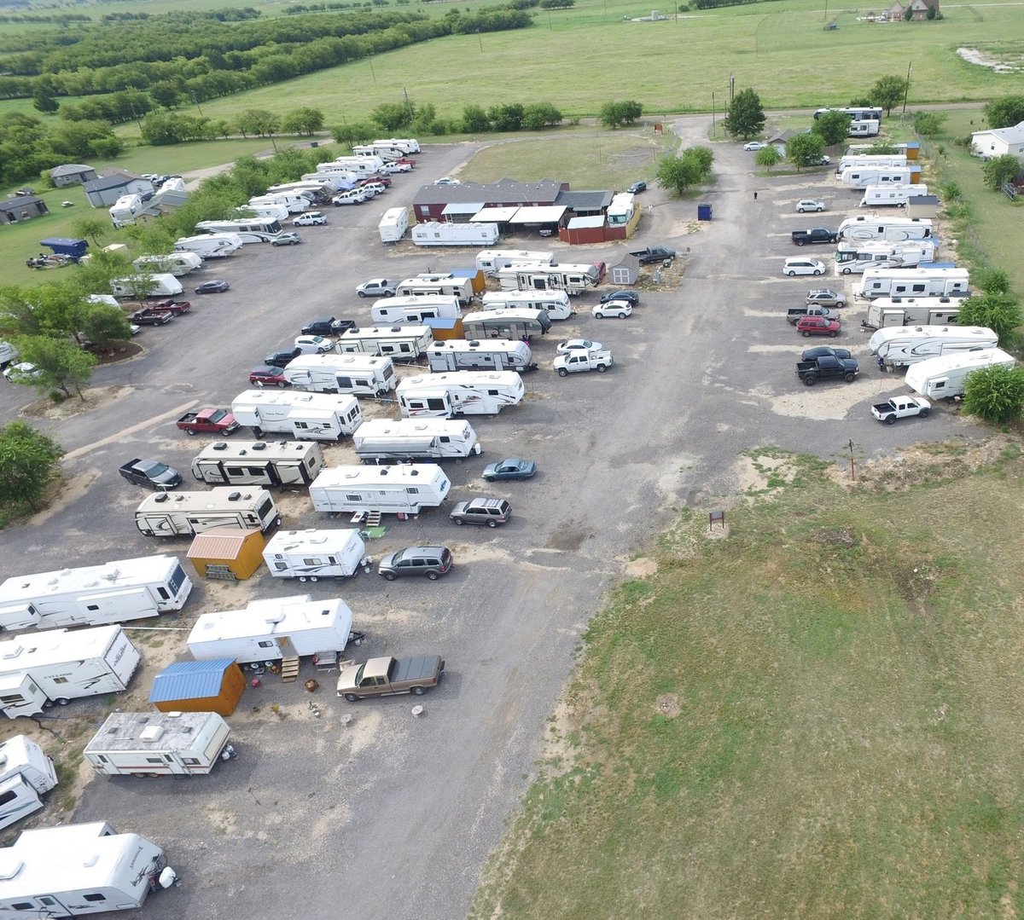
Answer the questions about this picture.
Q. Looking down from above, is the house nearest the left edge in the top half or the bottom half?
top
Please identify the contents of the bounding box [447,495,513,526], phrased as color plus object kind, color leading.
gray car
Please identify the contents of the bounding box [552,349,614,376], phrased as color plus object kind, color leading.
white truck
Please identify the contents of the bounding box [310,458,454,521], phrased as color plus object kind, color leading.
white trailer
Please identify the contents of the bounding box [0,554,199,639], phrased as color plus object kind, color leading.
white camper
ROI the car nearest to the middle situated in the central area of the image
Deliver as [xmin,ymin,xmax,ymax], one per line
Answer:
[476,455,540,481]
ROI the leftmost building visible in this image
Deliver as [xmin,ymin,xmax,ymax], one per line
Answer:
[0,190,53,227]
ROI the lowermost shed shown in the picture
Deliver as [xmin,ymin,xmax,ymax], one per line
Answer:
[140,655,252,716]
